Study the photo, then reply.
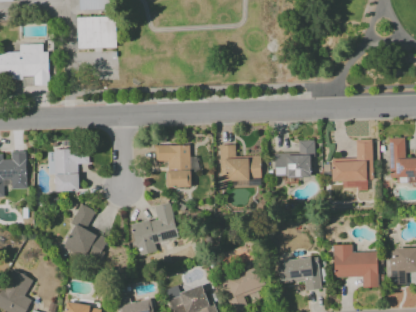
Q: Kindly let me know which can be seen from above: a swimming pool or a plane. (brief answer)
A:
swimming pool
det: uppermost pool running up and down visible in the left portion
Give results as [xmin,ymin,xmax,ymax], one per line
[38,168,50,194]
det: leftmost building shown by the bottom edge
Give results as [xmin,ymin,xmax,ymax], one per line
[0,272,34,312]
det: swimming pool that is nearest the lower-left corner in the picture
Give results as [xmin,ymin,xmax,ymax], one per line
[70,280,92,294]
